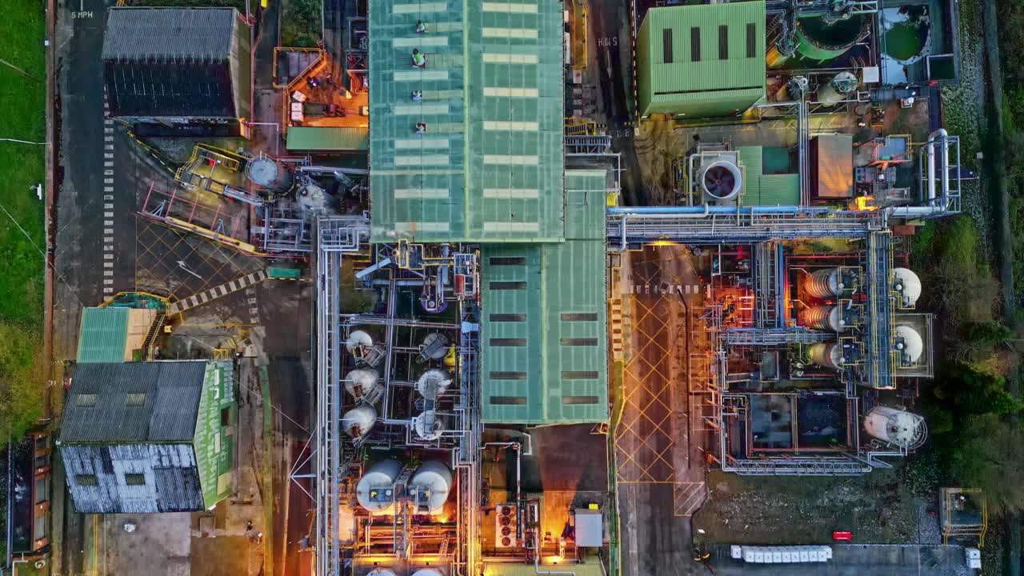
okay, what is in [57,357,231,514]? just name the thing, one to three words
barn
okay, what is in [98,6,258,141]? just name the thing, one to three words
shed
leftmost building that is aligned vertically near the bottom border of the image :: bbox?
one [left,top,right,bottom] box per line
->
[7,428,53,570]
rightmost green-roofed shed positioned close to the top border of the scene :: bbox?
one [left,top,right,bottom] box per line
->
[636,0,767,118]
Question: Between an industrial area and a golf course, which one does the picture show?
industrial area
